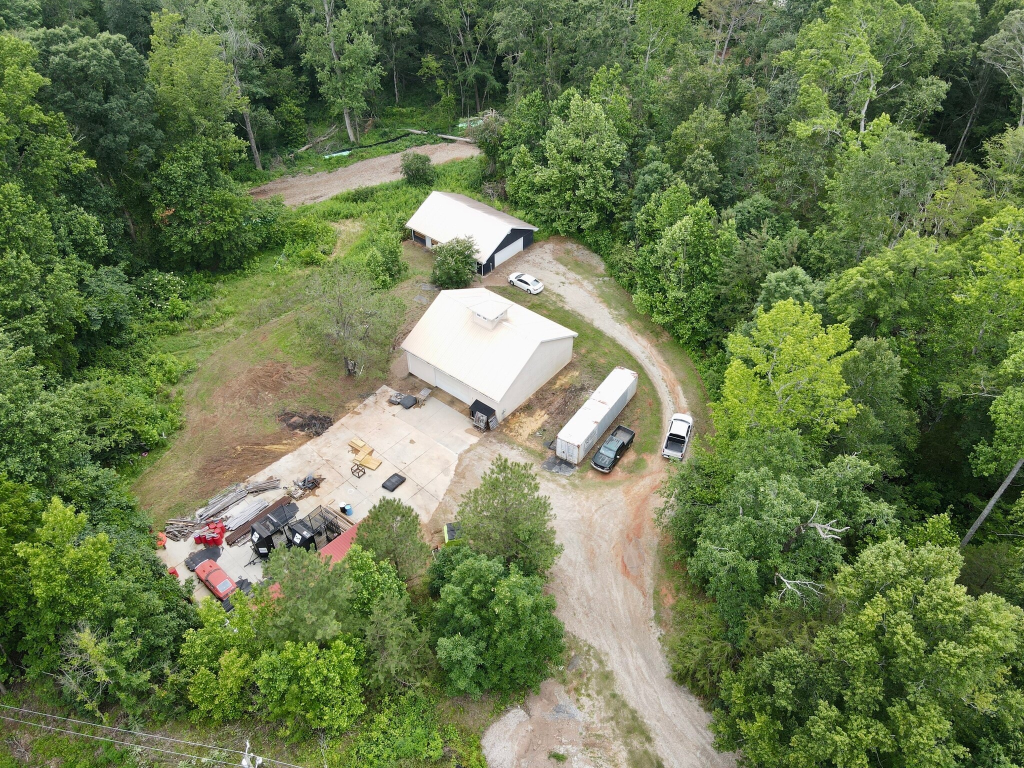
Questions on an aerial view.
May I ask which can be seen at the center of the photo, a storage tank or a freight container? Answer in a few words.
freight container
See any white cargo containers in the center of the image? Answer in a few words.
Yes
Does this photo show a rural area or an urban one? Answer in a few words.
rural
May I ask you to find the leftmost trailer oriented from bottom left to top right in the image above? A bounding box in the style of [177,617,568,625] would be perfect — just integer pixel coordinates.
[236,503,297,562]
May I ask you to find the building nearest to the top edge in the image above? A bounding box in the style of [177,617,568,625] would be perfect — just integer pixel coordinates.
[406,191,539,278]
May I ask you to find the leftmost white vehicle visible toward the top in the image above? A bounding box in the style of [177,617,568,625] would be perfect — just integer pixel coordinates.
[507,274,545,296]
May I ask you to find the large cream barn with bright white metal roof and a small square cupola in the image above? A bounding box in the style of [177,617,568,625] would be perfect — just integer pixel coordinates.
[400,289,578,425]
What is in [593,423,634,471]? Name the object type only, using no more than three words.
truck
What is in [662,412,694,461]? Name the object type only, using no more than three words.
truck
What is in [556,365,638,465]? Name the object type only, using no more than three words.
shipping container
